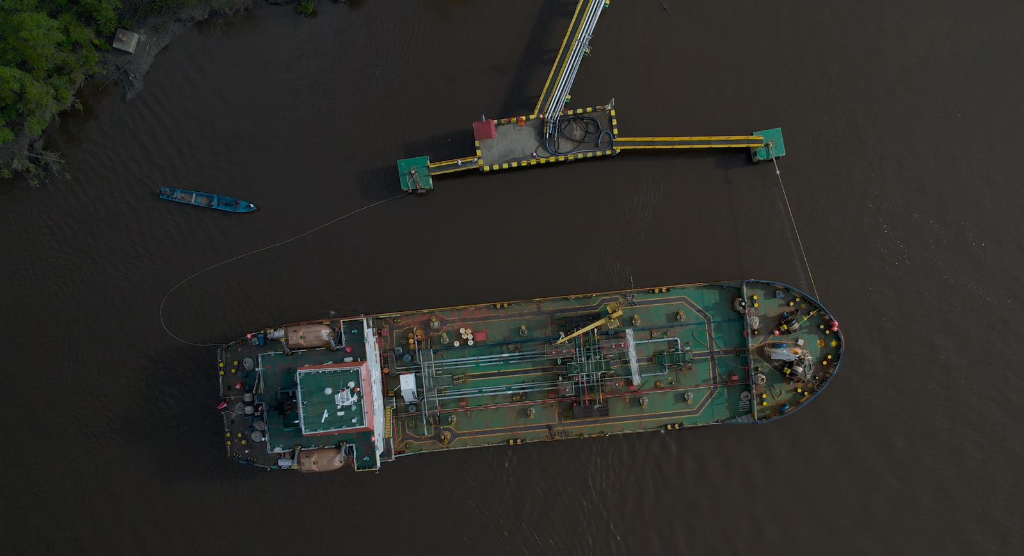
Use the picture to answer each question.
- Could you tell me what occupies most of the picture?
water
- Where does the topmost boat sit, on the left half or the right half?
left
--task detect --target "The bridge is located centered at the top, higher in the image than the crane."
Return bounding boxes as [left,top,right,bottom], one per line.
[537,0,610,117]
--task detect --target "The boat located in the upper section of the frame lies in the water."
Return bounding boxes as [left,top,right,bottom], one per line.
[153,186,259,211]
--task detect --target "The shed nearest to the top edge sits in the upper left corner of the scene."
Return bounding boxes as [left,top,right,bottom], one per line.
[114,29,150,59]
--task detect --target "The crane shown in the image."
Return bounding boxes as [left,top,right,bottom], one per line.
[555,301,626,344]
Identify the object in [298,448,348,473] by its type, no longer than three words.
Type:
boat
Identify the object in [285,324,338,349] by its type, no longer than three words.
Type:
boat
